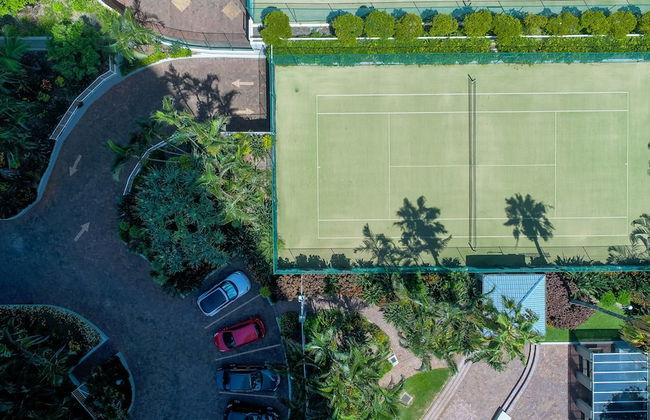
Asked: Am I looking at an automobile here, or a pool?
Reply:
automobile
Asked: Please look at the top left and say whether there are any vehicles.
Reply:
No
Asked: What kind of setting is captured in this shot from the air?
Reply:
sports ground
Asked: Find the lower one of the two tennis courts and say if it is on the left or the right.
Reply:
right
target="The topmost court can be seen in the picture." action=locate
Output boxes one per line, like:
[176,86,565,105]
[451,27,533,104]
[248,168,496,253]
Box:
[253,0,650,22]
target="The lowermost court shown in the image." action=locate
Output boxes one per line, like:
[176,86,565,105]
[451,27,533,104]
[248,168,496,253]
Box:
[274,65,650,267]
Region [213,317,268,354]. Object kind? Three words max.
car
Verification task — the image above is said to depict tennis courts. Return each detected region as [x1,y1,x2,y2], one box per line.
[253,0,650,22]
[274,65,650,267]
